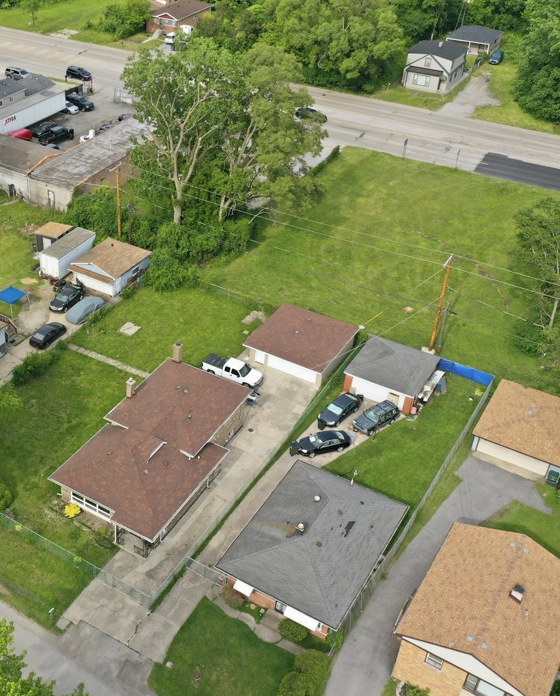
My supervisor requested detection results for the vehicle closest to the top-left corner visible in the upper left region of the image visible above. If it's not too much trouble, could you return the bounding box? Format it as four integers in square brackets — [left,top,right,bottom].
[3,66,32,81]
